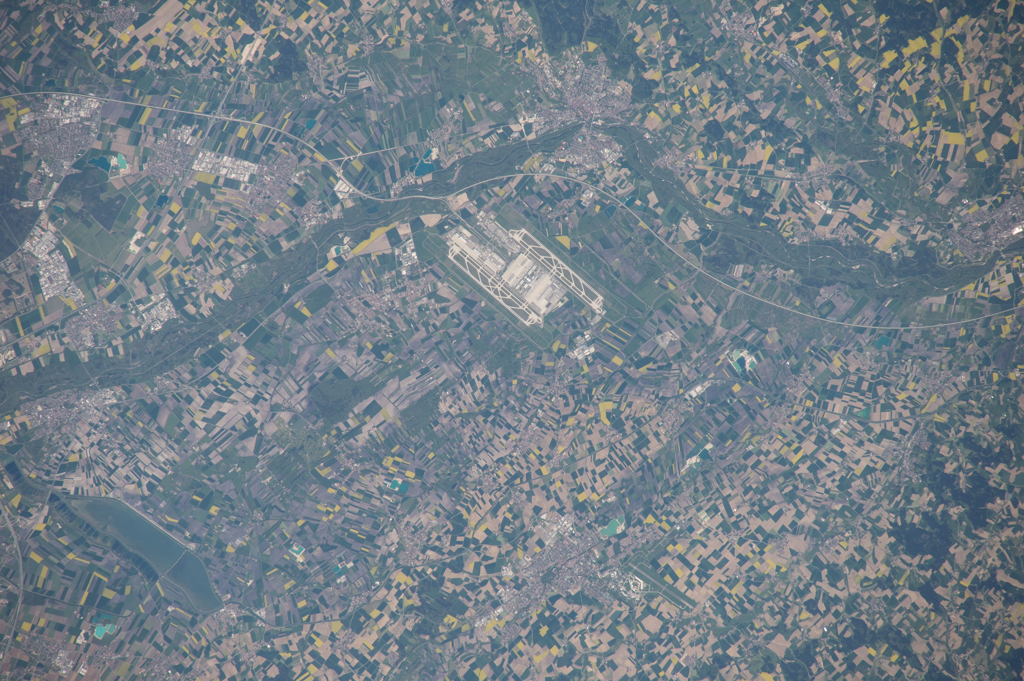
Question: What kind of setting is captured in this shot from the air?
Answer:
farmland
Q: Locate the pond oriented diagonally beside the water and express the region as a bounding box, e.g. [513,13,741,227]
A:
[70,497,220,612]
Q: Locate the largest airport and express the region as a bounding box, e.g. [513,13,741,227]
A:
[425,211,627,342]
